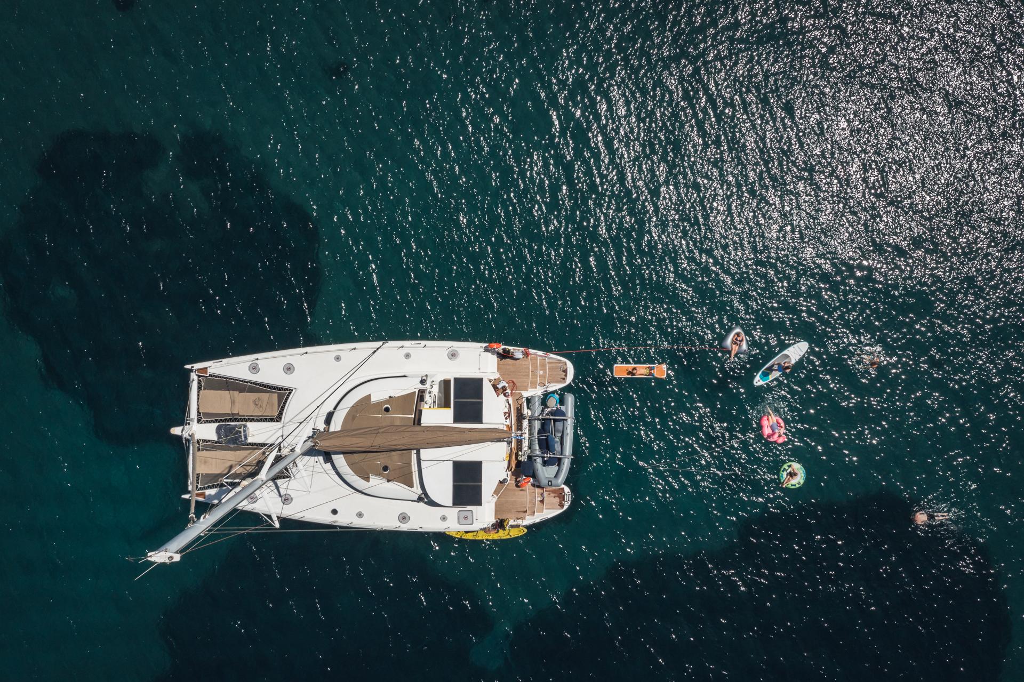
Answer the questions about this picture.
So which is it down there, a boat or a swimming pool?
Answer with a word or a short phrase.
boat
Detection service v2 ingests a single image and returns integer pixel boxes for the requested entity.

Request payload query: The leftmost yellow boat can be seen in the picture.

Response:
[445,527,527,539]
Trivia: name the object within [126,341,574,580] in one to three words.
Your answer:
boat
